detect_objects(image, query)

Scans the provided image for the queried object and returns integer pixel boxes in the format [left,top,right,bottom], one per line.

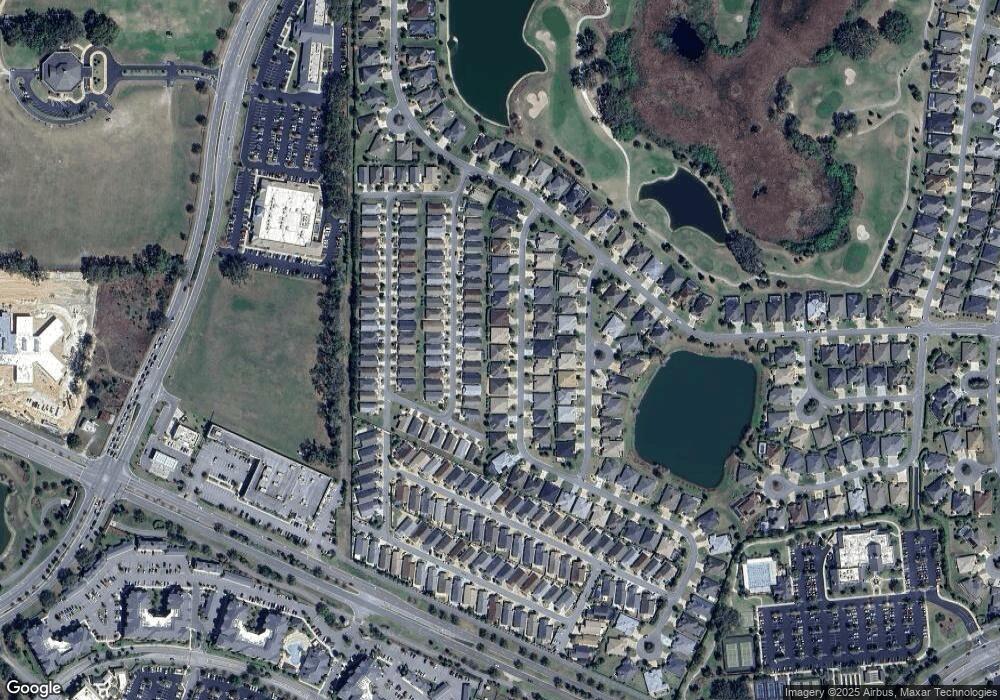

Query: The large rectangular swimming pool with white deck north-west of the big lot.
[742,556,776,593]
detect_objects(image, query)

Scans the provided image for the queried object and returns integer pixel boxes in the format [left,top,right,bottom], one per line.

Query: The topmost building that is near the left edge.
[42,52,93,91]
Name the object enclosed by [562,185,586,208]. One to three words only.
house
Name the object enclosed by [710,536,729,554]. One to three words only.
house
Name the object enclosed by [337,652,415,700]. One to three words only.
building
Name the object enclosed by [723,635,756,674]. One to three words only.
tennis court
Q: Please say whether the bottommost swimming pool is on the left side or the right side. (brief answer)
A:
left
